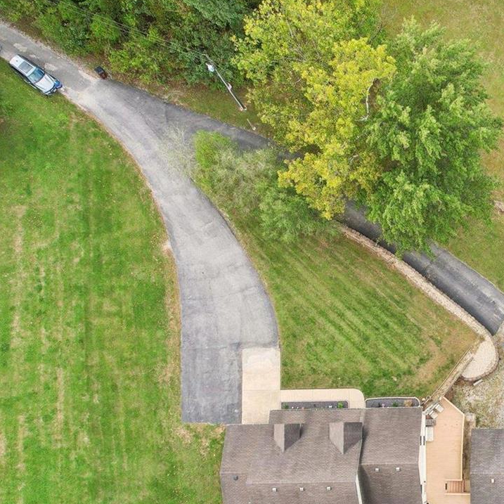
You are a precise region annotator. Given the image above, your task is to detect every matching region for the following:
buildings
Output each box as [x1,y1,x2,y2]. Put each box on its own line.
[469,428,504,504]
[216,408,426,504]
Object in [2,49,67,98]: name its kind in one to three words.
car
